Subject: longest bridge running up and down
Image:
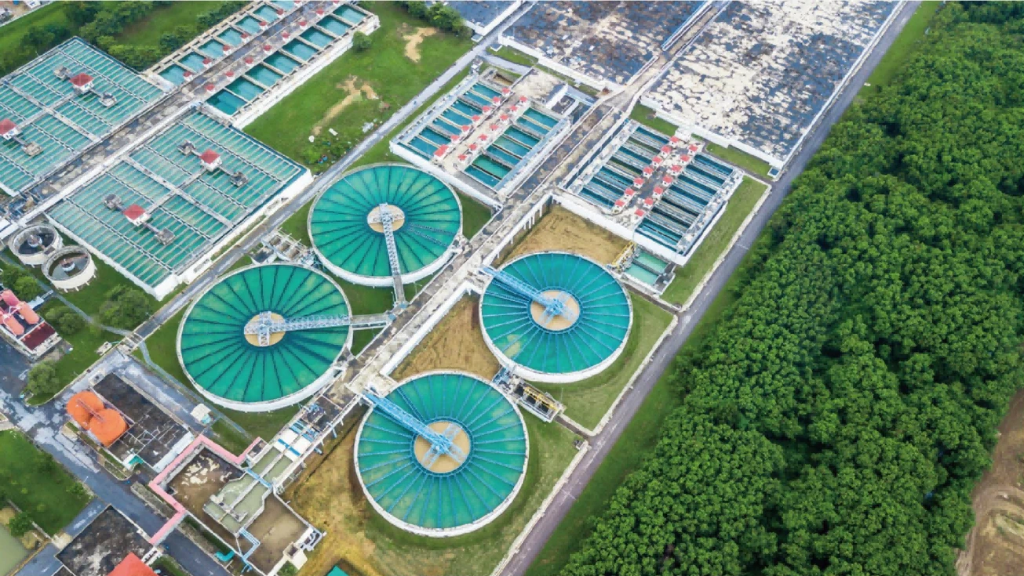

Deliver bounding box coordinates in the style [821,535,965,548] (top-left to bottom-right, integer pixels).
[368,200,405,284]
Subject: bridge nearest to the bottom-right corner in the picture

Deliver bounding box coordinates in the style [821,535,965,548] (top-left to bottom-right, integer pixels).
[484,262,578,325]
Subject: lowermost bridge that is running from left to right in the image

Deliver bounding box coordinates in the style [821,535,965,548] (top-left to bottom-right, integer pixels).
[244,308,362,344]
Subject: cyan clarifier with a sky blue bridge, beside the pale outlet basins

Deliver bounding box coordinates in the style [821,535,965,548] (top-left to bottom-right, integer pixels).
[478,247,634,383]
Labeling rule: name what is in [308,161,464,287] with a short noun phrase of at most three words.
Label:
storage tank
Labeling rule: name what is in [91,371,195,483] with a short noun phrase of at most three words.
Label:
building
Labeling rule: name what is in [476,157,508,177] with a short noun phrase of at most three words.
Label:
swimming pool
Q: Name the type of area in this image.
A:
industrial area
